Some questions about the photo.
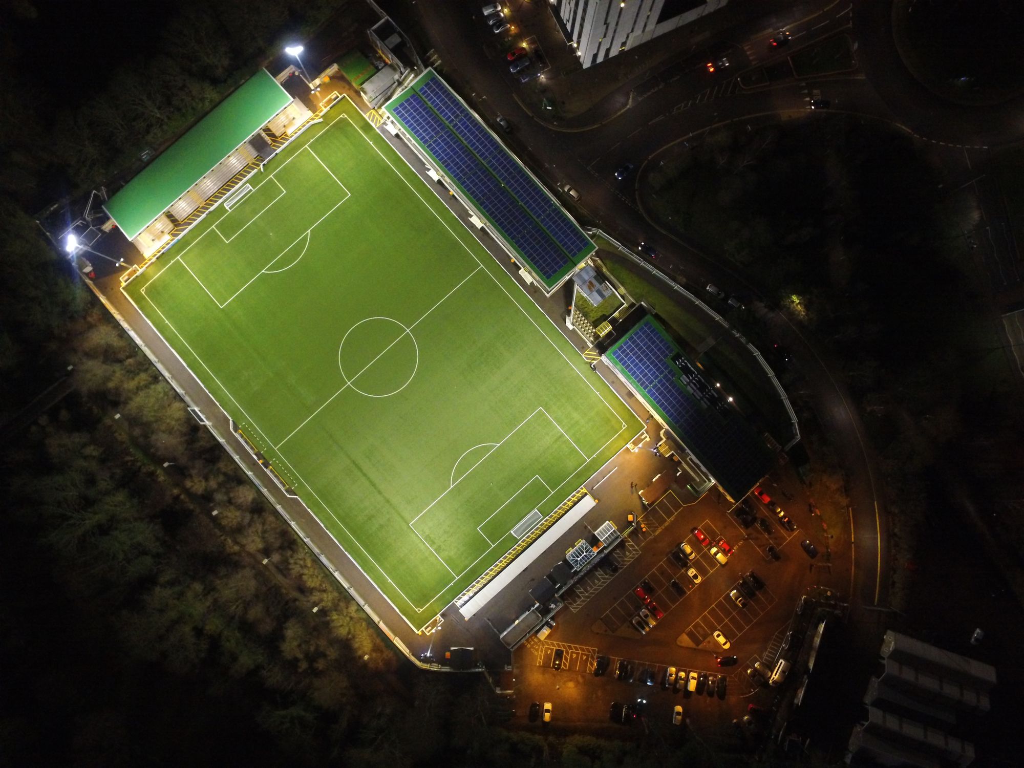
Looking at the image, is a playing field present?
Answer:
Yes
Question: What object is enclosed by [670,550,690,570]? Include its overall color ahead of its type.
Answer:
black car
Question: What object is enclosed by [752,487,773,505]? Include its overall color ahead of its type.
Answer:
red car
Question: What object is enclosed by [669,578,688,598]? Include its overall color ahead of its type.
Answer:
black car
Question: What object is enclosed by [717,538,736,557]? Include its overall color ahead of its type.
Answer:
red car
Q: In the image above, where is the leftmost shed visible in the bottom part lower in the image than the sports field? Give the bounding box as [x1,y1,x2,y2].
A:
[450,646,475,669]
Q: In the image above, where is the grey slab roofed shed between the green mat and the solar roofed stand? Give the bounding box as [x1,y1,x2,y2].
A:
[361,65,400,107]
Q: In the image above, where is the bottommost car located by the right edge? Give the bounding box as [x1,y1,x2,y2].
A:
[969,628,981,645]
